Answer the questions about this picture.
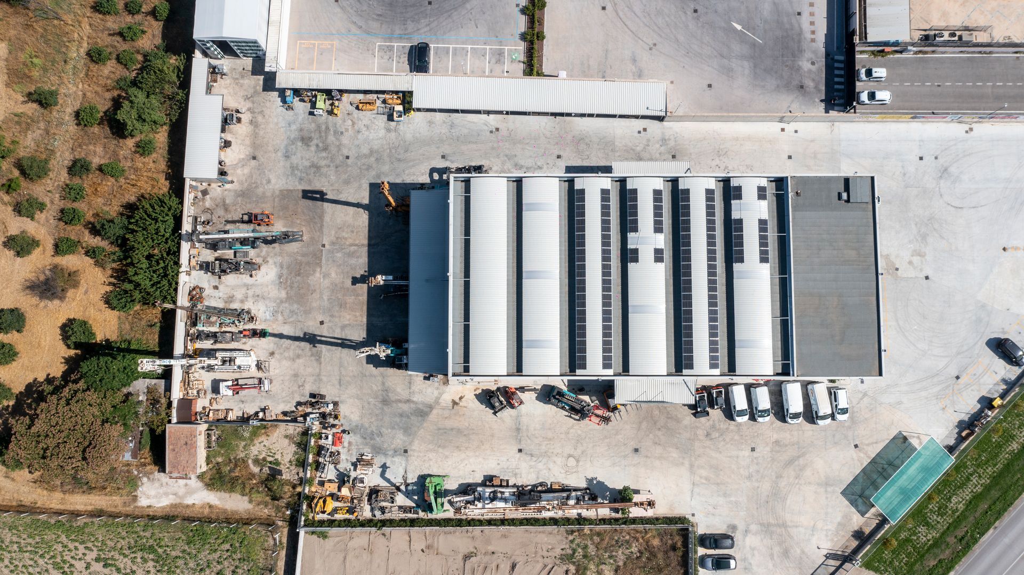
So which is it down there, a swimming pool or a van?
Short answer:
van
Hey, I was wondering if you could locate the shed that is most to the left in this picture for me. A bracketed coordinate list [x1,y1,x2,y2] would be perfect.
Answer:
[122,424,147,461]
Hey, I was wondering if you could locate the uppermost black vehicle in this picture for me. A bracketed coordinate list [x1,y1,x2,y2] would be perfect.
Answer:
[413,42,430,72]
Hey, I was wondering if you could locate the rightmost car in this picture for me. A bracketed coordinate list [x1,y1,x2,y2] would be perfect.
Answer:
[999,340,1024,372]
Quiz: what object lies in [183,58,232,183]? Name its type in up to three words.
shed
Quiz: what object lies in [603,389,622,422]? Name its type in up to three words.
work vehicle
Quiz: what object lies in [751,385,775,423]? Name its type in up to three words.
vehicle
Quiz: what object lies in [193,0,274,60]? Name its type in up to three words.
building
